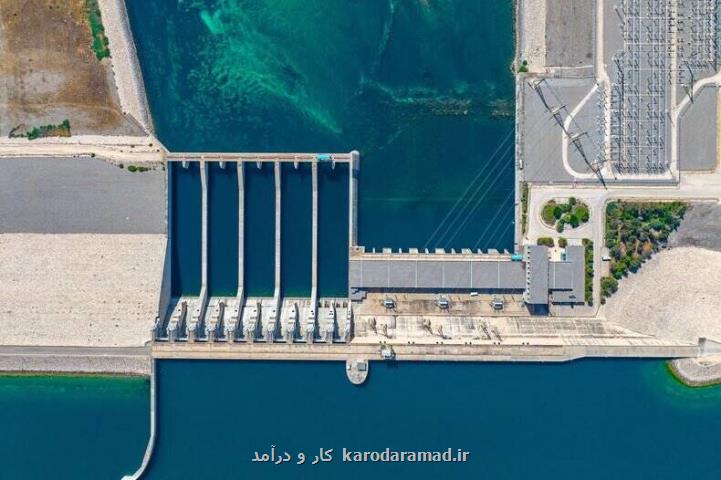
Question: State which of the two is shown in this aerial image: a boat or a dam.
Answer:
dam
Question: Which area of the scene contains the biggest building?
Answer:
center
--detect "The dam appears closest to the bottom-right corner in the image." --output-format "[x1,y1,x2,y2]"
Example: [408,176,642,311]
[601,249,721,384]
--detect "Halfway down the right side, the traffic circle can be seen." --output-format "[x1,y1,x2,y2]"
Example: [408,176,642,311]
[541,197,590,232]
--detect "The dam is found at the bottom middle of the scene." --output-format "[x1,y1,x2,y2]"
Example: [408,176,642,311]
[152,313,701,385]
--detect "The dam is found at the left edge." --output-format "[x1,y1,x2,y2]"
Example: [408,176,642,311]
[0,233,167,373]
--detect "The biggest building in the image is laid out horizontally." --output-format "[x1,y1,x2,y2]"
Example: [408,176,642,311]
[349,246,525,299]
